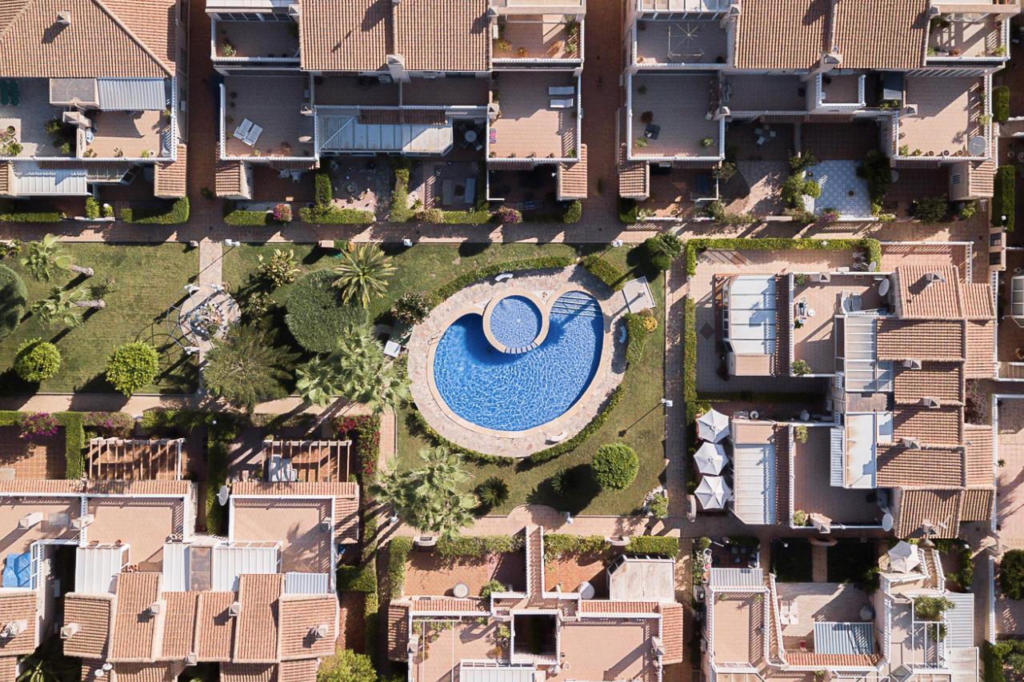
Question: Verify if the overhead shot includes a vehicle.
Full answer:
No, no vehicle is visible in the view.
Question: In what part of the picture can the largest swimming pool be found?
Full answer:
The largest swimming pool is located in the center region of the scene.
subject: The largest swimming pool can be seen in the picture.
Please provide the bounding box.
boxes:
[425,283,611,438]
